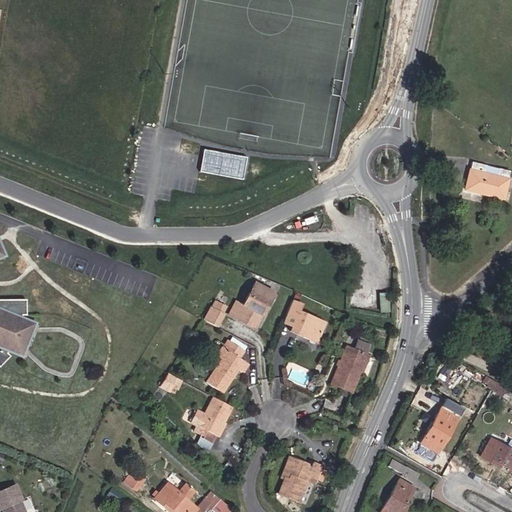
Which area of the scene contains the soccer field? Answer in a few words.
top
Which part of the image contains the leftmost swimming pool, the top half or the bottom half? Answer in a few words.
bottom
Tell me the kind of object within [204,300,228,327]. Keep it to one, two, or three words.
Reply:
building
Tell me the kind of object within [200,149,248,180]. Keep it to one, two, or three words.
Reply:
building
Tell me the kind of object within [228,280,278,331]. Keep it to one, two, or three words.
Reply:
house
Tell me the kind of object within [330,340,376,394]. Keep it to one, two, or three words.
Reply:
house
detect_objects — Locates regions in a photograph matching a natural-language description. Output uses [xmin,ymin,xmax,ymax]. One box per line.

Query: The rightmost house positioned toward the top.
[464,162,512,202]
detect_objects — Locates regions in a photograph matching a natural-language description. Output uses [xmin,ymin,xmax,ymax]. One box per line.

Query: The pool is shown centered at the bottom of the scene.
[286,362,309,388]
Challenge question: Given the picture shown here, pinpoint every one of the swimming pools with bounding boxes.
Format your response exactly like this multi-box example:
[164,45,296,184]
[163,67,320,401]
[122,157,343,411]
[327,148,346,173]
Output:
[483,412,495,424]
[286,362,309,388]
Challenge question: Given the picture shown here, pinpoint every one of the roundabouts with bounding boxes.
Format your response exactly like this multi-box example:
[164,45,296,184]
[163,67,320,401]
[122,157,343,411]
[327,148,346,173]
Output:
[354,130,418,198]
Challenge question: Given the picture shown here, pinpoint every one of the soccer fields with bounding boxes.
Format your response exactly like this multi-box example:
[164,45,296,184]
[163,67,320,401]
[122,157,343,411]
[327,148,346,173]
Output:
[165,0,356,160]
